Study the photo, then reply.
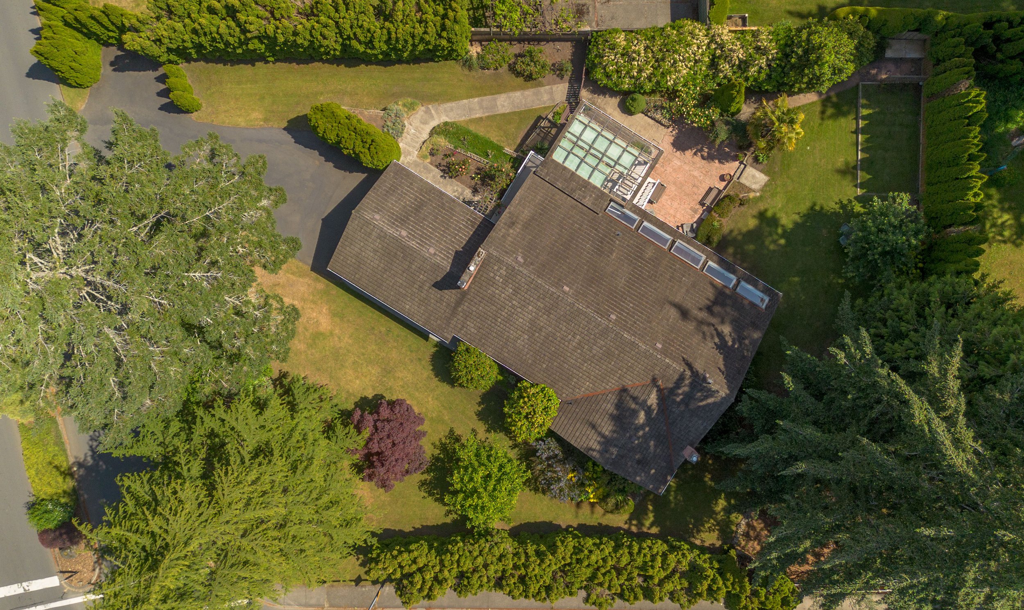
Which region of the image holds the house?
center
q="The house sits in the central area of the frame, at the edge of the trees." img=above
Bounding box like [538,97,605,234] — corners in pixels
[326,98,778,496]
